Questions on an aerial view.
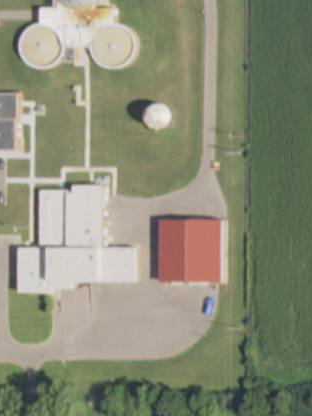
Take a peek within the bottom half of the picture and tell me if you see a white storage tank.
No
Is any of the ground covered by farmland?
Yes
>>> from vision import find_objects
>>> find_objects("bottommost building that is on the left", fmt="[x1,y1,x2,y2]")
[18,184,143,294]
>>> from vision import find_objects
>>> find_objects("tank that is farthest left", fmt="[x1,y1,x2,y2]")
[19,22,68,68]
